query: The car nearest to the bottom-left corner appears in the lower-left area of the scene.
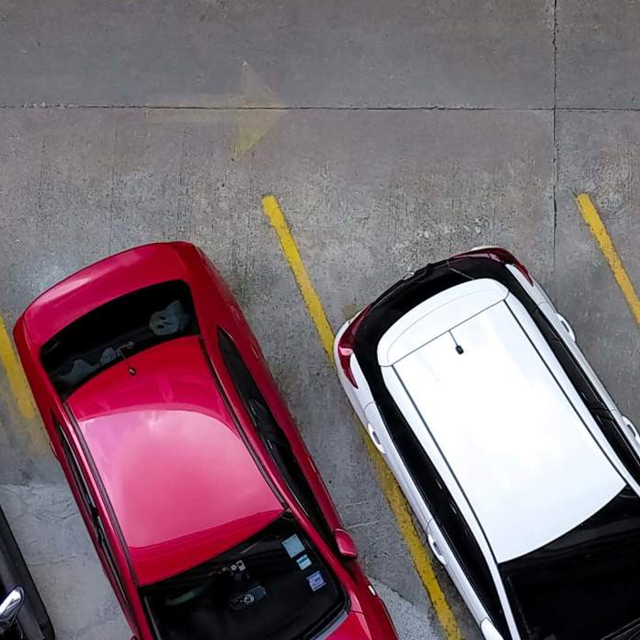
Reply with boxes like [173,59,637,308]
[0,502,62,640]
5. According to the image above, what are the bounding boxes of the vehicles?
[13,240,406,640]
[0,502,62,640]
[338,246,640,640]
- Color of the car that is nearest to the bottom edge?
black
